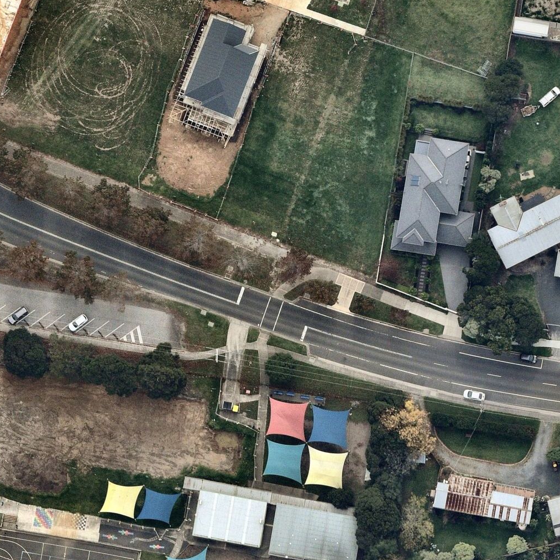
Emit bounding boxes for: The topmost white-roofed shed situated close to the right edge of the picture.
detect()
[512,18,550,40]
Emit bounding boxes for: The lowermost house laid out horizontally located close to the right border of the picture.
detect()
[431,475,534,525]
